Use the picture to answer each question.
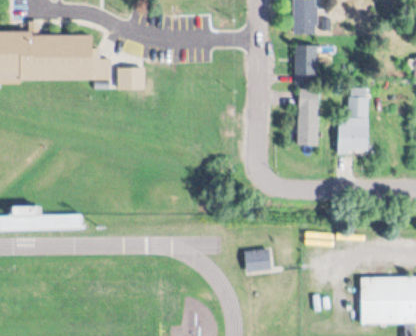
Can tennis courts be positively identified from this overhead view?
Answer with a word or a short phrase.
No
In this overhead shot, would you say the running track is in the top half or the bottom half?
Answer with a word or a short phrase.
bottom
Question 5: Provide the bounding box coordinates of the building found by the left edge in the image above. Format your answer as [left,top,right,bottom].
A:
[0,20,111,90]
